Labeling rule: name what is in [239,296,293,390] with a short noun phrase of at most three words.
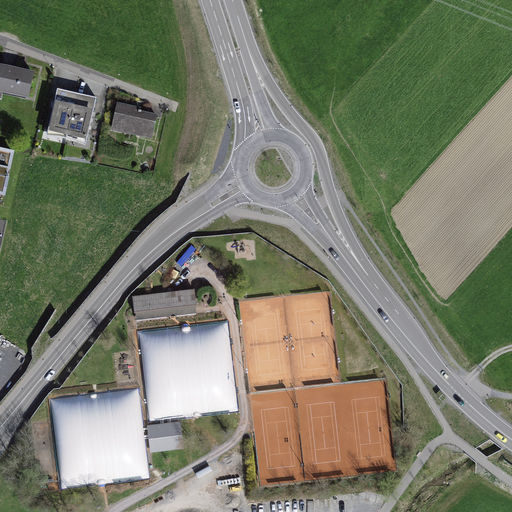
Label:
tennis court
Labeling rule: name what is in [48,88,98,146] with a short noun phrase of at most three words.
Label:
house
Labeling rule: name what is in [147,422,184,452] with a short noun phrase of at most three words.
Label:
building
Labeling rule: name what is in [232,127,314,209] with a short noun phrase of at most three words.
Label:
roundabout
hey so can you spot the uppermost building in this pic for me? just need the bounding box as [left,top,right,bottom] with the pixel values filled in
[0,64,34,98]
